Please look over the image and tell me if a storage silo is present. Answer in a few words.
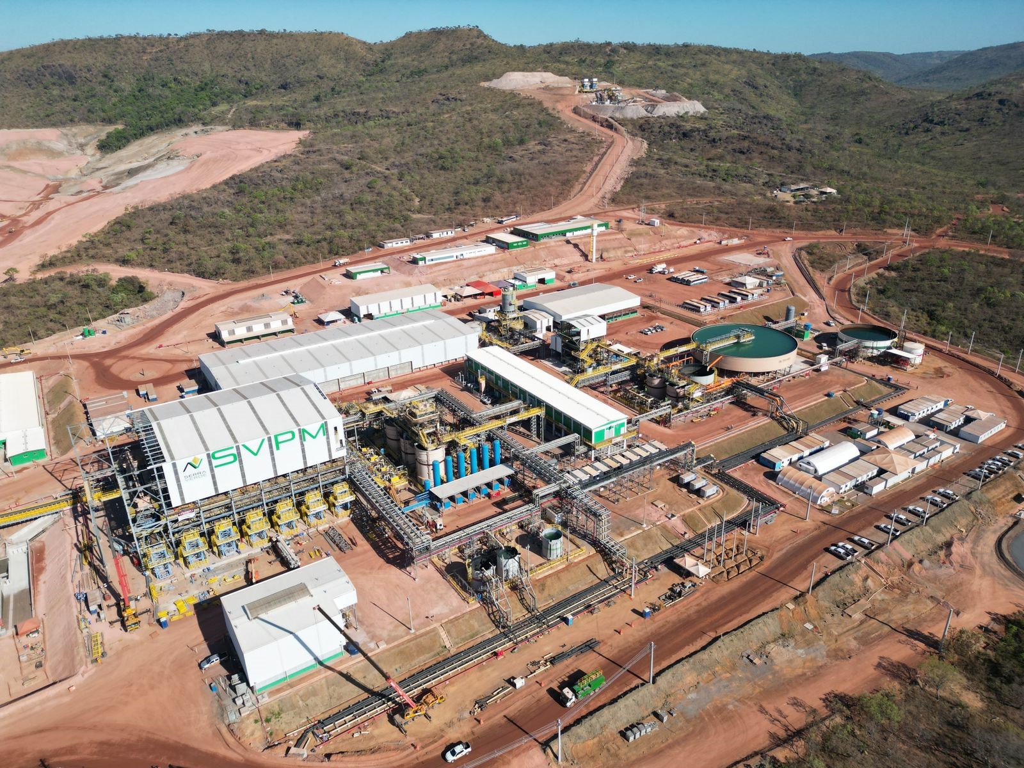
Yes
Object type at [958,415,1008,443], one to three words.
building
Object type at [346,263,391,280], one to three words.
shed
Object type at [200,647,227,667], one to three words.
vehicle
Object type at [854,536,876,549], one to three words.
vehicle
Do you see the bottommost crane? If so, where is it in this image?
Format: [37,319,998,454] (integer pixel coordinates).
[327,610,448,727]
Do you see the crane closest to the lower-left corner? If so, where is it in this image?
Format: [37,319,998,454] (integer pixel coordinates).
[92,480,155,642]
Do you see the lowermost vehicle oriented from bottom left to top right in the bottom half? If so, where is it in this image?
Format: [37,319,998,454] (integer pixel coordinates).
[445,741,471,767]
